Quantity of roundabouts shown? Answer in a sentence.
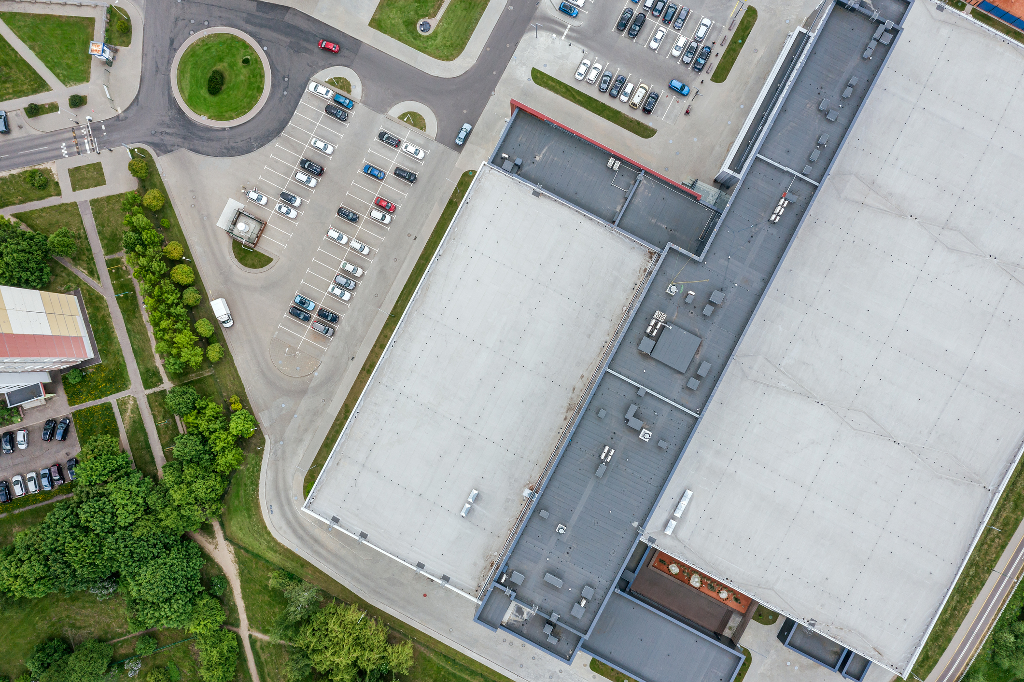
The picture shows 1 roundabout.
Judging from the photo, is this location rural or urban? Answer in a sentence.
The land in this view is best described as urban.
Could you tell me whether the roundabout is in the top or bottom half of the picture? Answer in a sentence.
It is in the top half that the roundabout appears.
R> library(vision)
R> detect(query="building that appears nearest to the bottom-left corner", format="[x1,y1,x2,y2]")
[0,287,94,410]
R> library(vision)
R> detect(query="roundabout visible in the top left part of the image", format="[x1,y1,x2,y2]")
[171,27,270,126]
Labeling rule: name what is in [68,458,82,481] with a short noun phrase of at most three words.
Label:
car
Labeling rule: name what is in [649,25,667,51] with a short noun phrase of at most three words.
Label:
car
